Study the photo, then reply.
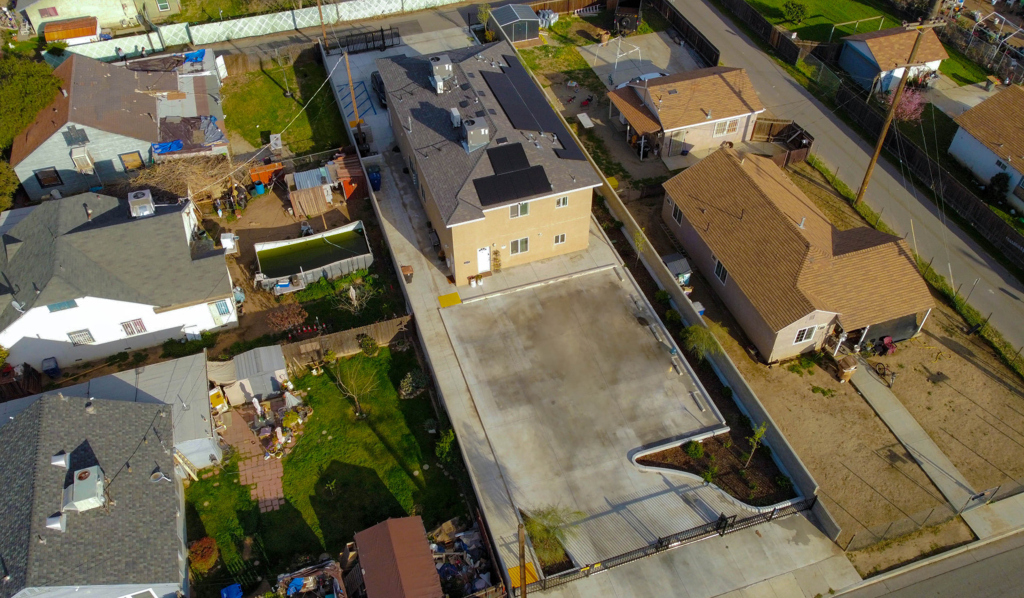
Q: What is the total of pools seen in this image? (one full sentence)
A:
Only 1 pool is visible.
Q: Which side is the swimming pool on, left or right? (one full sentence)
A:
The swimming pool sits on the left side.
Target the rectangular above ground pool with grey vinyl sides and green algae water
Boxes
[254,220,376,294]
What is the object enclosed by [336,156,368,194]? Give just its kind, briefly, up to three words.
shed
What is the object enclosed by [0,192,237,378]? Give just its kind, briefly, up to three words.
house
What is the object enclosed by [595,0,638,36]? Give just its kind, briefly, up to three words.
trailer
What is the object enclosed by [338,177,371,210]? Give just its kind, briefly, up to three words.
shed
